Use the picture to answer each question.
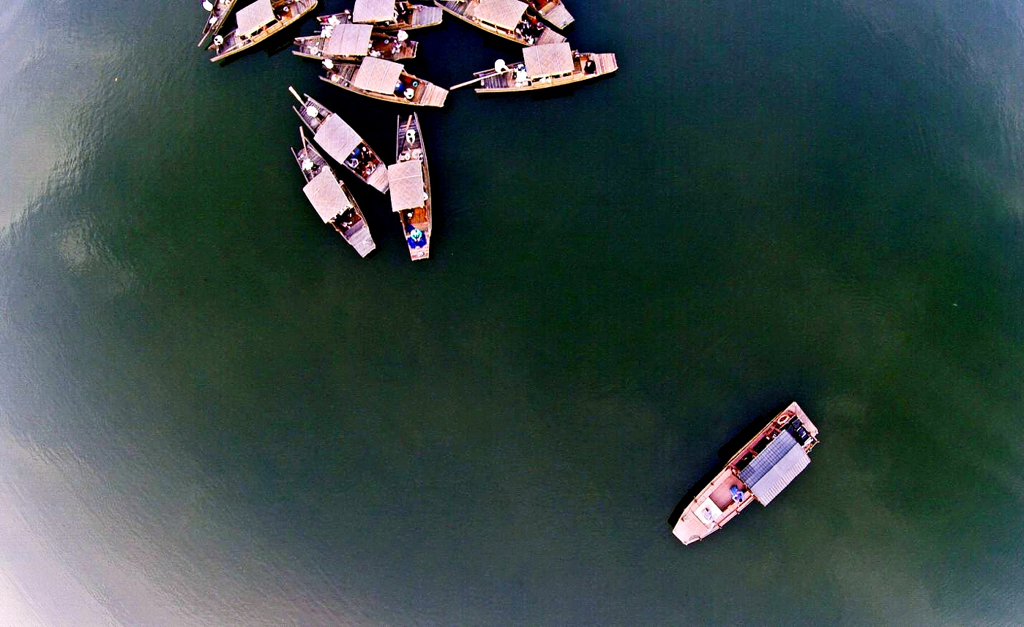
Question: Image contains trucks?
No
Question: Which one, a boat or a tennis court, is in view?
boat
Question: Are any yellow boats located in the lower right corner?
No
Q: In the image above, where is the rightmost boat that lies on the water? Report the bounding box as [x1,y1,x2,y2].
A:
[672,402,821,548]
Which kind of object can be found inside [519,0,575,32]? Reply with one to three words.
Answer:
boat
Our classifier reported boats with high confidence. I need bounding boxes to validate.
[291,92,391,196]
[317,0,443,41]
[519,0,575,32]
[201,0,243,35]
[437,0,567,49]
[672,402,821,548]
[473,42,619,95]
[205,0,318,62]
[318,56,449,111]
[289,137,378,258]
[389,112,435,260]
[292,24,418,68]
